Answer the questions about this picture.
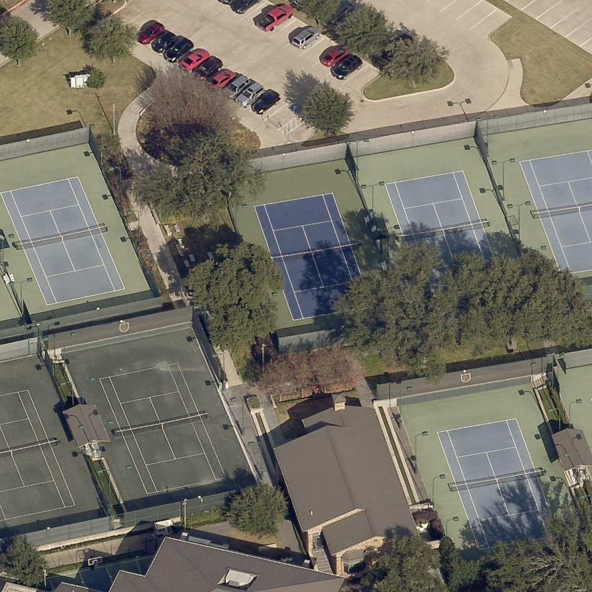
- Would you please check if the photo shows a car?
Yes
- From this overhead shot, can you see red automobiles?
Yes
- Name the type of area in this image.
sports ground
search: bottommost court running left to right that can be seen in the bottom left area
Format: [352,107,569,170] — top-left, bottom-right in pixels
[43,552,157,592]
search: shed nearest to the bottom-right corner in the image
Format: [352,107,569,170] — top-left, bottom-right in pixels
[551,427,592,496]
